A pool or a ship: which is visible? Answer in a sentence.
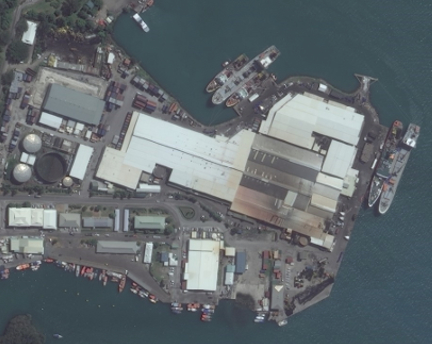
It is a ship that can be seen here.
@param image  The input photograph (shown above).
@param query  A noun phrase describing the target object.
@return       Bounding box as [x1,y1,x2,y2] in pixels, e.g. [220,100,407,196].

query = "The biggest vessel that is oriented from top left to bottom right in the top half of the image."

[134,12,148,31]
